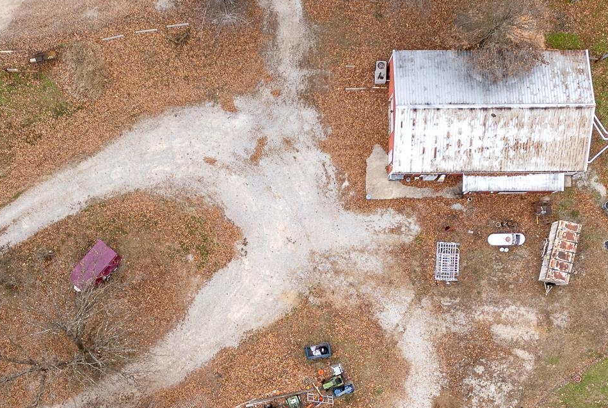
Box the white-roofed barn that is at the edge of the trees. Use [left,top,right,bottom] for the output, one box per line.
[388,50,597,195]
